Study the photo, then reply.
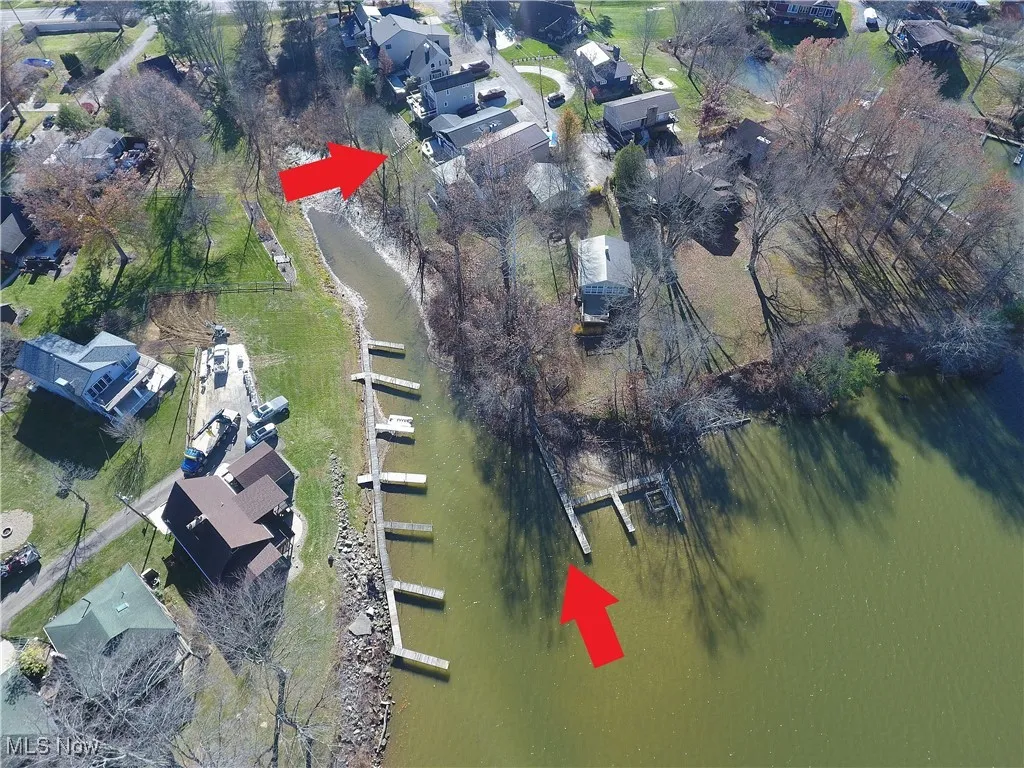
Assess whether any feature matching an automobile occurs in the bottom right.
No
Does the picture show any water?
Yes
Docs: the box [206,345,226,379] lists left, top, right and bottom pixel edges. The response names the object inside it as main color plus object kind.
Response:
white vehicle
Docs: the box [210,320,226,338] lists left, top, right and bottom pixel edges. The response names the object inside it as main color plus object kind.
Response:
gray work vehicle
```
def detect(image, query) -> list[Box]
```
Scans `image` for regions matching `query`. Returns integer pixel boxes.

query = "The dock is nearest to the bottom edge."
[386,642,452,677]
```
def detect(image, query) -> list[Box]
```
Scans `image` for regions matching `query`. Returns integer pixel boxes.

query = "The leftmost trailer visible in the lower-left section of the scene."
[0,539,46,586]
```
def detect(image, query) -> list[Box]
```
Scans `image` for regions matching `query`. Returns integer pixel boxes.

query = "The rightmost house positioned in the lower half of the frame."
[169,441,296,599]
